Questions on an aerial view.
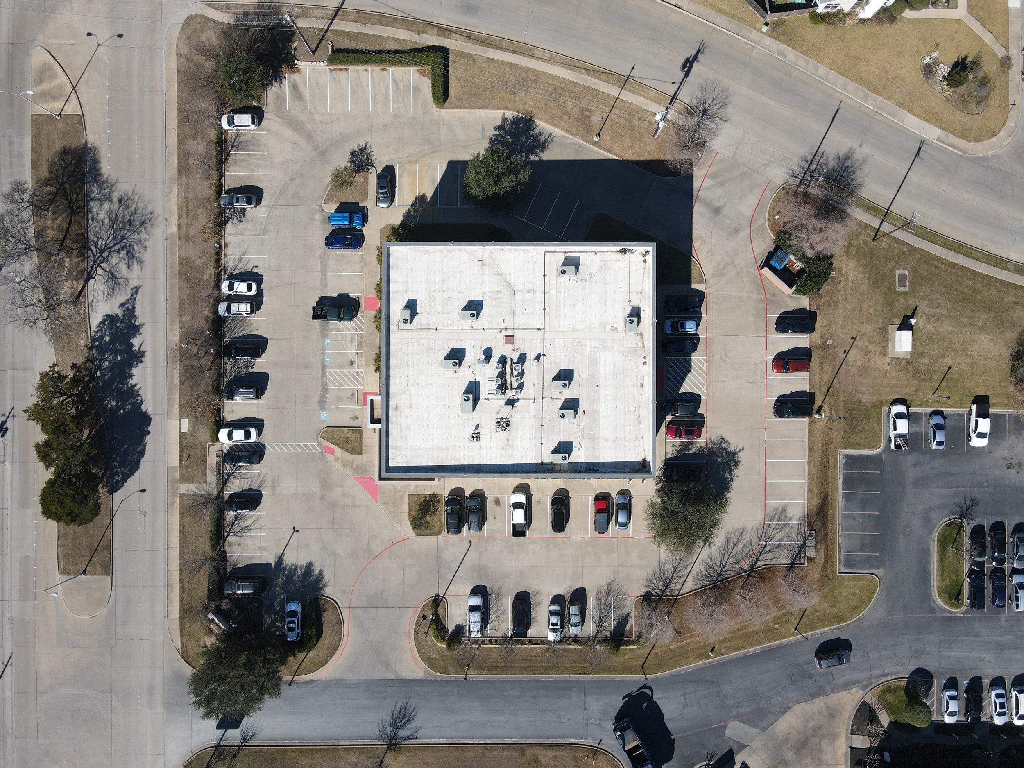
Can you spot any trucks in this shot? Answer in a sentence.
Yes, the image includes a truck.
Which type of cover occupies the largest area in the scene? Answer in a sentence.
What you mostly see from above here is paved ground.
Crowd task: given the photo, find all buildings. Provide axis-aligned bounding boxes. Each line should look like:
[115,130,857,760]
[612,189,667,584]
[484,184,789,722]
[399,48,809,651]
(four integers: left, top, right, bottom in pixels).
[816,0,911,17]
[367,242,656,484]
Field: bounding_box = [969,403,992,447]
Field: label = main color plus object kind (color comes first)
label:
white truck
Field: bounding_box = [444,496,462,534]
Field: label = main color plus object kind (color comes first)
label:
black car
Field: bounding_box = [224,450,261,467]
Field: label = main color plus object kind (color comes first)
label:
black car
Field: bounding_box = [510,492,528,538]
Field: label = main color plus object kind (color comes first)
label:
white vehicle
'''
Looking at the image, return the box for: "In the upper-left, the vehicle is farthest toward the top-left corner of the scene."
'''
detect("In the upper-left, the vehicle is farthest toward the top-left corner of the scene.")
[221,112,259,131]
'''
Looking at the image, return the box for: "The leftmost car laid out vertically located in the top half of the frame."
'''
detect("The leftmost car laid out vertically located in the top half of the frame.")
[375,172,392,208]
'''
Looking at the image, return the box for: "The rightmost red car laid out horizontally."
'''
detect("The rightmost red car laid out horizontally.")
[771,357,810,375]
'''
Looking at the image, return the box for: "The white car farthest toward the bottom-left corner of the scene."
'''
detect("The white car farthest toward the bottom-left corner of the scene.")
[218,426,259,444]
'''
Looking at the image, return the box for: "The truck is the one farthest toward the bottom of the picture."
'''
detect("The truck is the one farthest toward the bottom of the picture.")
[610,715,651,768]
